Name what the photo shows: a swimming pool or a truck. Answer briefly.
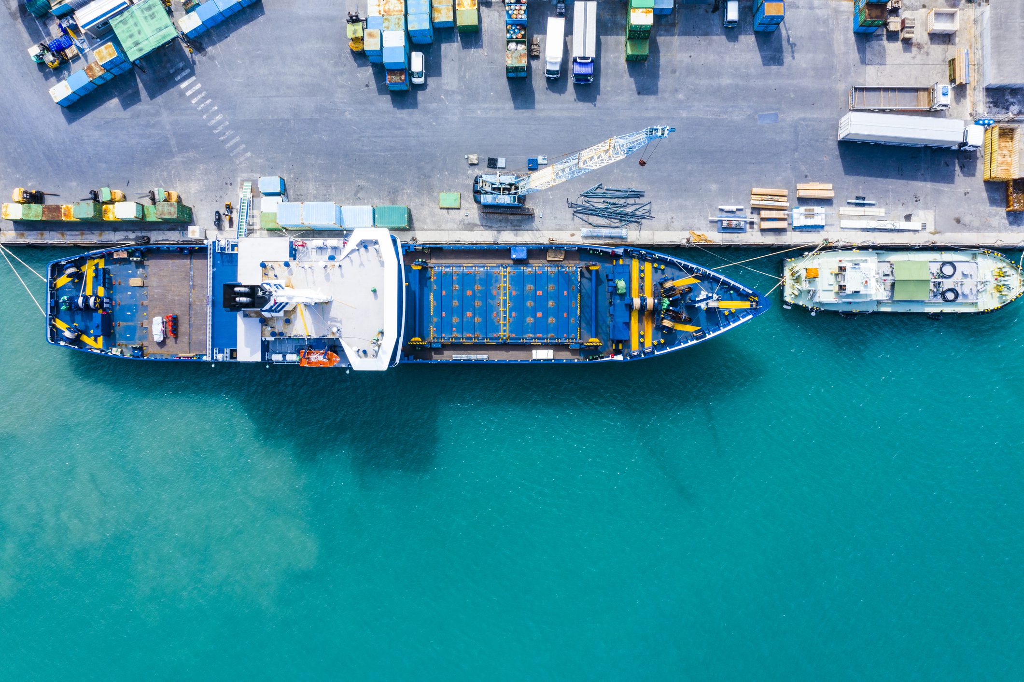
truck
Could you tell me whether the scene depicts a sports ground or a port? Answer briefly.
port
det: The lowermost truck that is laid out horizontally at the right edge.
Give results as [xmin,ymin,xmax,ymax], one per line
[840,110,989,149]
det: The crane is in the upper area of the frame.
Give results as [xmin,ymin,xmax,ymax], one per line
[473,123,674,217]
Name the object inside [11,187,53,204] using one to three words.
work vehicle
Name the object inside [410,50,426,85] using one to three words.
vehicle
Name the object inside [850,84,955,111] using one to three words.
truck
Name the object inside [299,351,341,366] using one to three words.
boat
